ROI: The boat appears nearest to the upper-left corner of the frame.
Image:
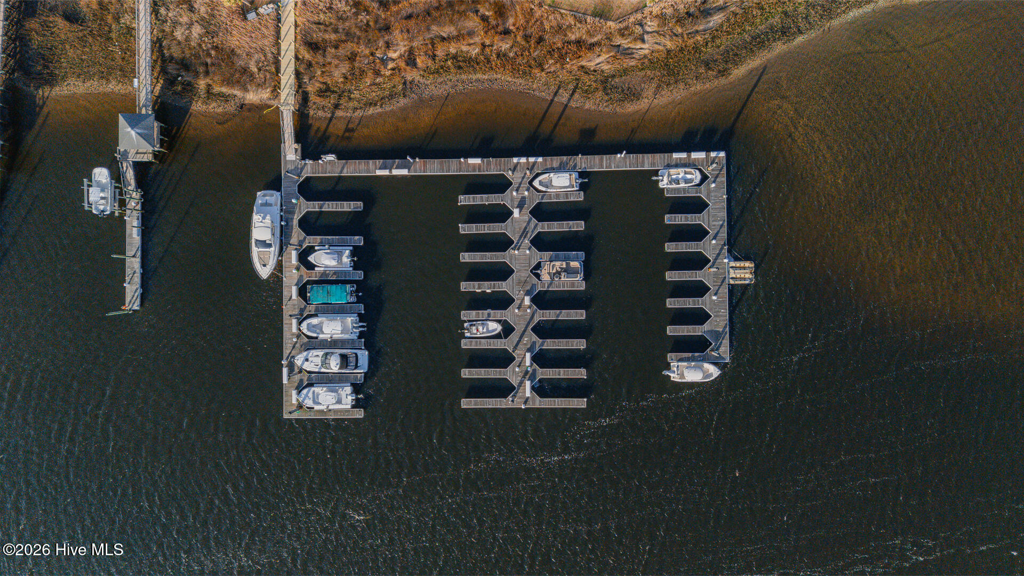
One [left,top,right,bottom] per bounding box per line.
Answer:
[89,167,113,222]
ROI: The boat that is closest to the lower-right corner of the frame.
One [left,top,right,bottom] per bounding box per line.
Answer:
[661,362,721,382]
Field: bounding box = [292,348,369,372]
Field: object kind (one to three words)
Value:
boat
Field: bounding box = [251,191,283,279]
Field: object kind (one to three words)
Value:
boat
